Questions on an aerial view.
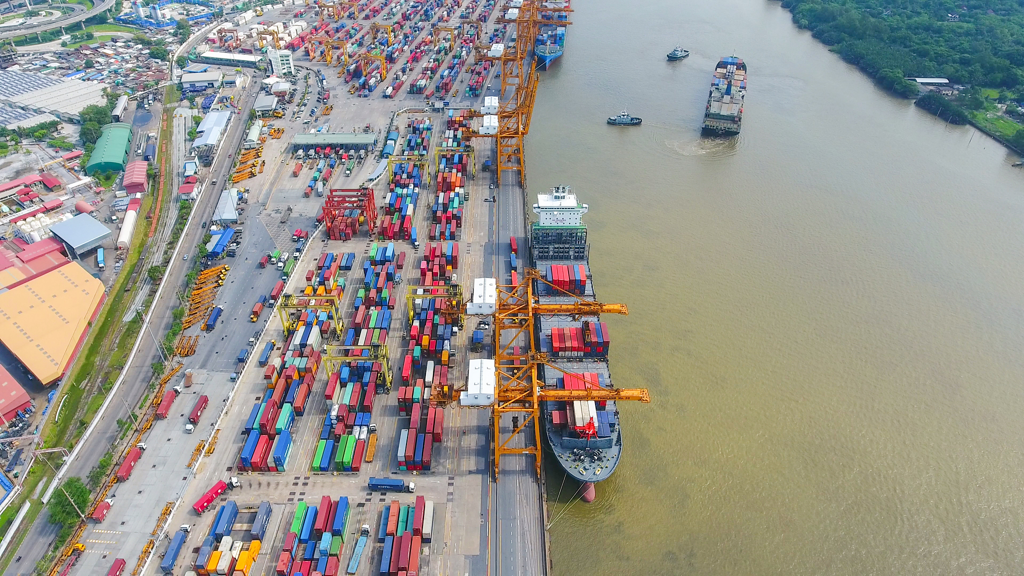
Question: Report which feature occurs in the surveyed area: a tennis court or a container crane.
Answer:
container crane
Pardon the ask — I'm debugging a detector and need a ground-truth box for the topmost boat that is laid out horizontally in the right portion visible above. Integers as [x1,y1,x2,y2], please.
[666,45,693,59]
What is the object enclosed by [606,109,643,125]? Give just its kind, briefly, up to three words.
boat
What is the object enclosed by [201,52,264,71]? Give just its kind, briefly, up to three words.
building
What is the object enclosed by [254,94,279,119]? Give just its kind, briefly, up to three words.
house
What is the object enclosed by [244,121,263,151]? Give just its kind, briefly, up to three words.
shed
